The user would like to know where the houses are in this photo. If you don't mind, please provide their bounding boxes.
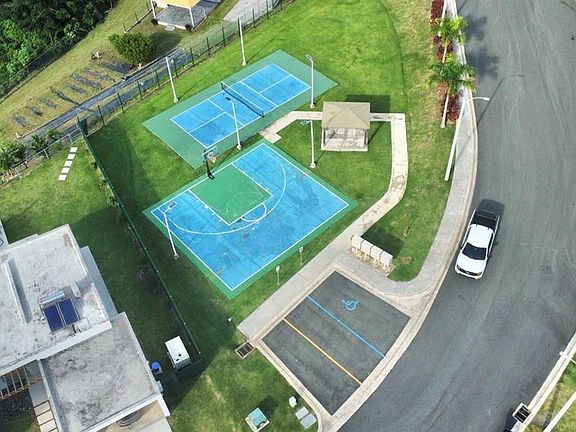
[133,0,224,32]
[0,224,179,432]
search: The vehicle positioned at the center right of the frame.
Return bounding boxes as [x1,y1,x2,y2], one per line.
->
[457,208,501,276]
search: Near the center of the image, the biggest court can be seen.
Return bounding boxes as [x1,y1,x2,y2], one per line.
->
[141,137,358,298]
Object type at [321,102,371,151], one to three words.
building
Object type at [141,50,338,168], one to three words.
sports court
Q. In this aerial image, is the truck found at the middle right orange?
No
